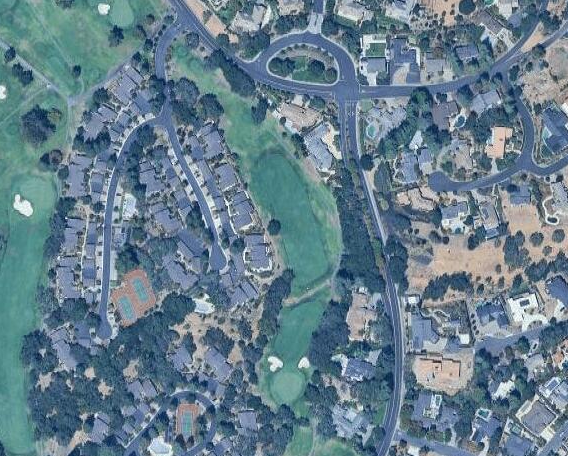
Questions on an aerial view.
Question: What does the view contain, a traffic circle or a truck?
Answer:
traffic circle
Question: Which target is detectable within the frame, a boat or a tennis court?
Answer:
tennis court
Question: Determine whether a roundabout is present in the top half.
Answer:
Yes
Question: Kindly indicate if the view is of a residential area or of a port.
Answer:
residential area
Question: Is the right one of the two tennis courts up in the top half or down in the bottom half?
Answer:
bottom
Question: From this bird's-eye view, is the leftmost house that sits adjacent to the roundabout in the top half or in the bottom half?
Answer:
top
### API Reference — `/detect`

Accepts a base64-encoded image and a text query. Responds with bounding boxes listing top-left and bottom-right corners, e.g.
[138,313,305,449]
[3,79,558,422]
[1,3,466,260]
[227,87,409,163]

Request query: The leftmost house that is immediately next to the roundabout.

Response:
[230,1,267,34]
